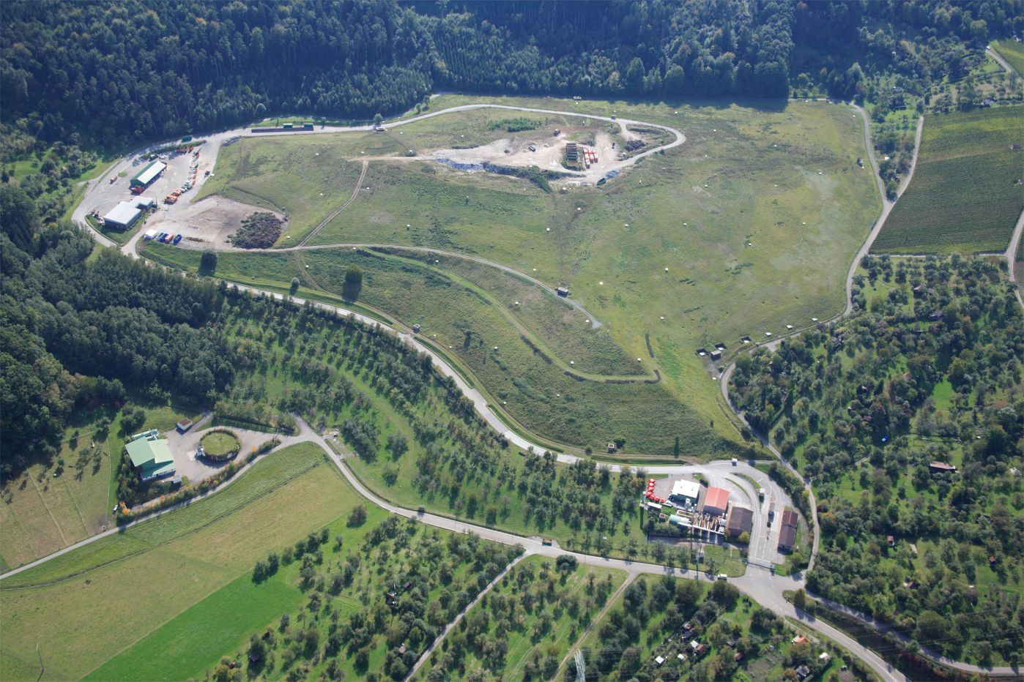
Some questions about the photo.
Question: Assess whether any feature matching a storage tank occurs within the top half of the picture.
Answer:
No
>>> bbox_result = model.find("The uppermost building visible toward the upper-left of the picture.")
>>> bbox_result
[125,161,167,190]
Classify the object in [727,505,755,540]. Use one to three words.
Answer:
building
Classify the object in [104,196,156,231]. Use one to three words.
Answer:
building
